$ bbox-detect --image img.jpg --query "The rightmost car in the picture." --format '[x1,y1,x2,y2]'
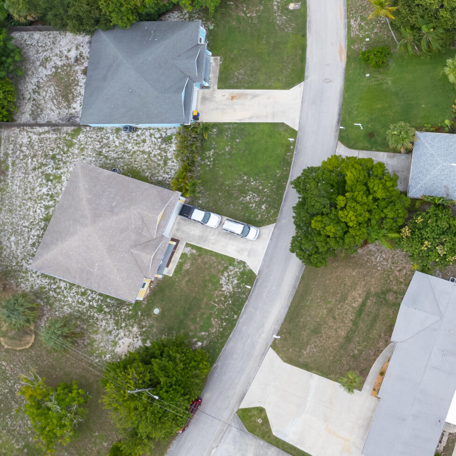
[220,217,260,241]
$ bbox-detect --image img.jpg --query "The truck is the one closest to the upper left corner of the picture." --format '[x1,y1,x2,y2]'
[178,203,221,228]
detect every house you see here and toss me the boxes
[408,132,456,202]
[79,20,216,127]
[362,272,456,456]
[30,161,187,304]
